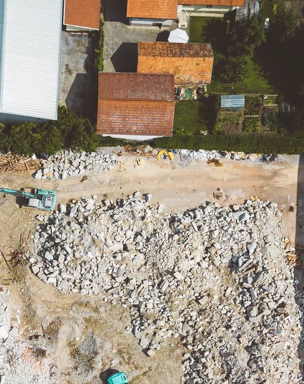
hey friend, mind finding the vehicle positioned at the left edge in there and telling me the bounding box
[0,185,62,211]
